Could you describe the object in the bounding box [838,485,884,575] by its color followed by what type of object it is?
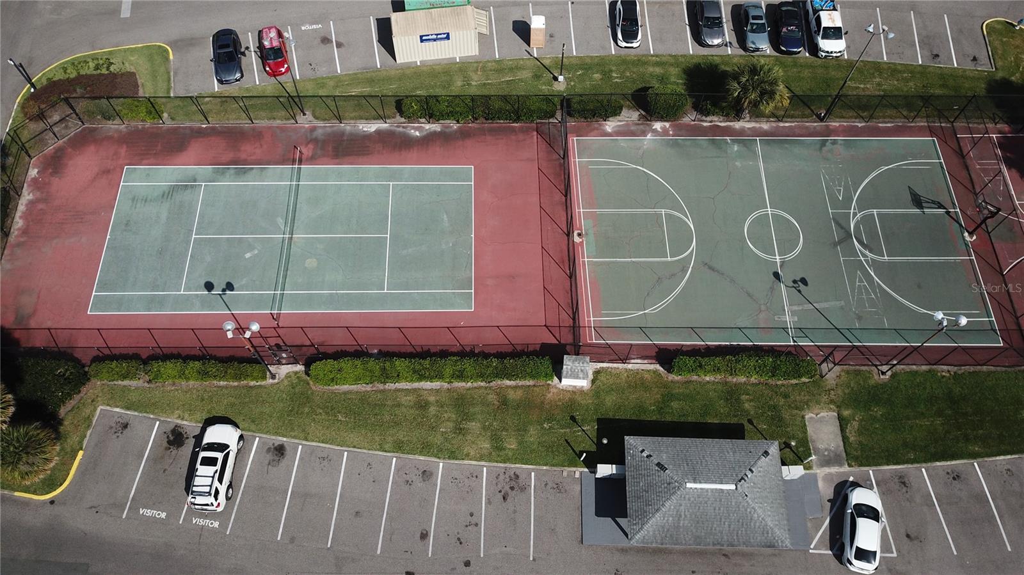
white car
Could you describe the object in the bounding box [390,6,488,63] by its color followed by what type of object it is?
white shipping container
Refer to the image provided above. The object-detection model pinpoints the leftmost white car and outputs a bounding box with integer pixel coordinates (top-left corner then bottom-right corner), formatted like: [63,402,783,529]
[190,422,241,513]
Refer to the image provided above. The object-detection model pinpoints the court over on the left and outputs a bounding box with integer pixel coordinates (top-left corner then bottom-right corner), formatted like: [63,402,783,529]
[0,123,574,367]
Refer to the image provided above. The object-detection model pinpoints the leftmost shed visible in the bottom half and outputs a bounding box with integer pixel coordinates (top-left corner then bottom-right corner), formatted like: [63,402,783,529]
[563,352,591,386]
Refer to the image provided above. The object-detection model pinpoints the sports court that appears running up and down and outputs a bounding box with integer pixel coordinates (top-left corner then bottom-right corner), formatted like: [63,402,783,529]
[953,123,1024,333]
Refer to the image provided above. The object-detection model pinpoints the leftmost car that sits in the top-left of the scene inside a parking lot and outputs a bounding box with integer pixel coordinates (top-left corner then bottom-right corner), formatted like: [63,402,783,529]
[210,29,243,86]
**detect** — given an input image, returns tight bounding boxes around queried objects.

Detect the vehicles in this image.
[210,29,243,86]
[612,0,643,49]
[739,2,772,55]
[190,422,241,513]
[802,0,845,60]
[693,0,726,50]
[774,3,807,55]
[838,485,884,575]
[258,26,287,79]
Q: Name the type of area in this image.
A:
sports ground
